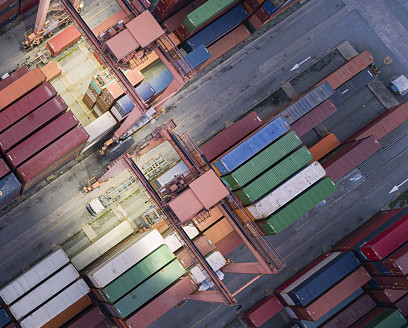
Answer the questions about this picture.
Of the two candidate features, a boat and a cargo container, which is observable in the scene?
cargo container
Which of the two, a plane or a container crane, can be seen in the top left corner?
container crane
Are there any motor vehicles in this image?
Yes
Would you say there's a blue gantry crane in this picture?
No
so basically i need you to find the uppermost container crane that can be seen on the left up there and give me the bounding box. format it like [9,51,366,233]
[18,0,203,154]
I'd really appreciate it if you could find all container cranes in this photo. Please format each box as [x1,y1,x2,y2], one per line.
[18,0,203,154]
[79,115,288,315]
